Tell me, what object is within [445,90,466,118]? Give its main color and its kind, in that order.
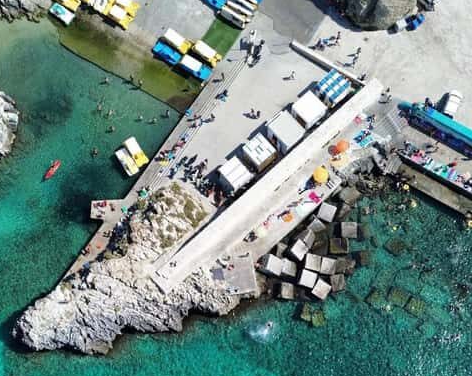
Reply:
white car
